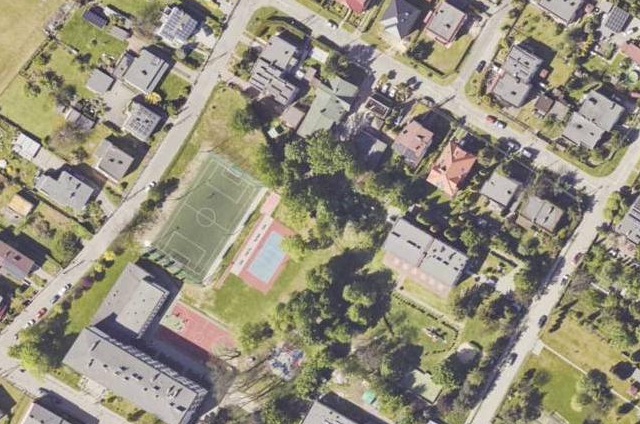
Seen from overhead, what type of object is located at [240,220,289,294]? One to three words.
basketball court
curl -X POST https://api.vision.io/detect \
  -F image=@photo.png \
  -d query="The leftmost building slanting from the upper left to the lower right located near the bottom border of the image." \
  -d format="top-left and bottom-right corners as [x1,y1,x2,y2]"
[65,324,202,424]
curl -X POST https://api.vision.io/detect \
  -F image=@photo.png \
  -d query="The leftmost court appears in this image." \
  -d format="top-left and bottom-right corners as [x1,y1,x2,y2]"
[155,302,235,367]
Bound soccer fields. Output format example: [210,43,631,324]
[141,152,264,283]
